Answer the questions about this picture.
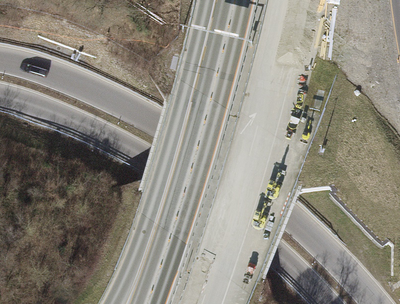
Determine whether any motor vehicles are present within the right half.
Yes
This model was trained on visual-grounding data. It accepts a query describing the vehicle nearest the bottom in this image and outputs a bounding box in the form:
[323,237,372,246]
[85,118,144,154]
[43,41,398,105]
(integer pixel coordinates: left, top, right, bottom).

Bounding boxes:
[243,261,258,284]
